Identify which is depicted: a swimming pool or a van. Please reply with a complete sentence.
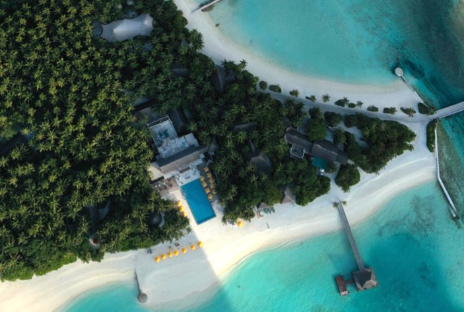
The one in the frame is a swimming pool.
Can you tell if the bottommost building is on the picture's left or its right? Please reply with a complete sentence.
The bottommost building sits on the right side.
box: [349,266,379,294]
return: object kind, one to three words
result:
building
